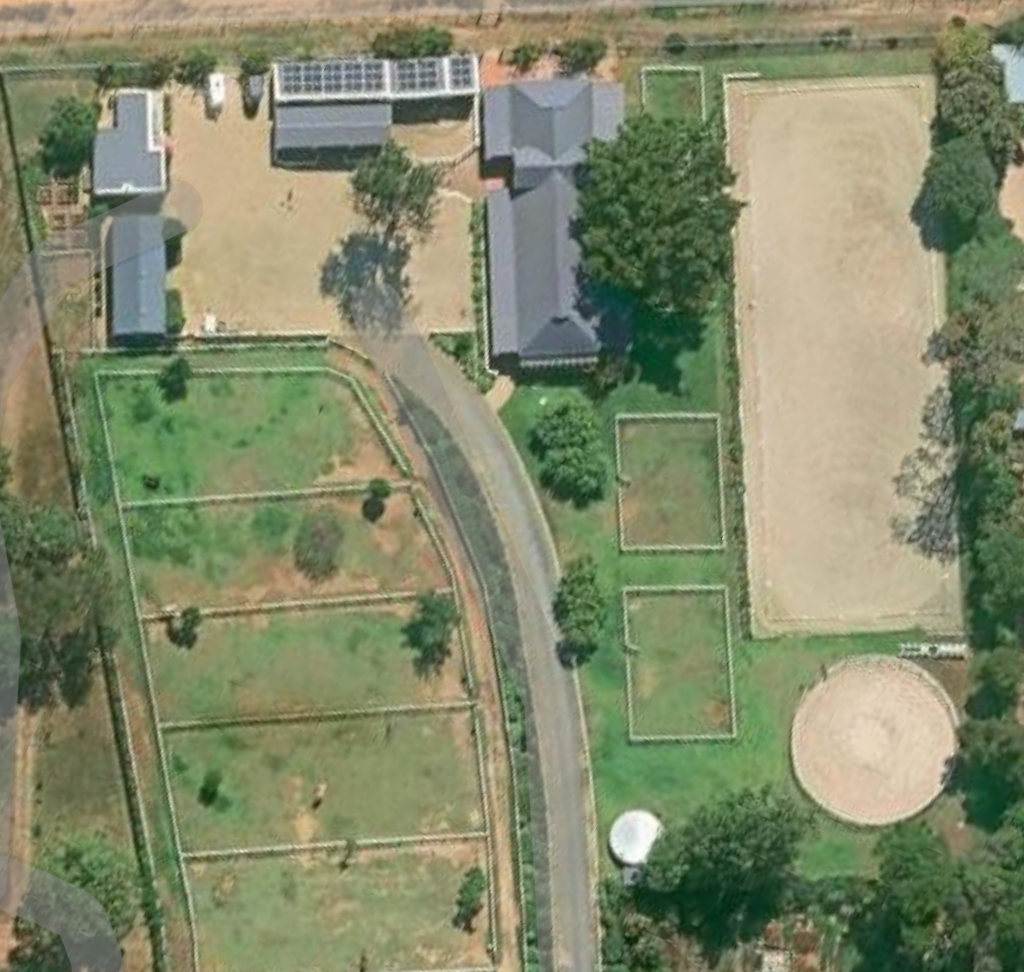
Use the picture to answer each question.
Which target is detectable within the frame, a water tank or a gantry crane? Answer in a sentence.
This aerial view contains a water tank.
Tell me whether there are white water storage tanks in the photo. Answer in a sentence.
Yes, this view includes a white water storage tank.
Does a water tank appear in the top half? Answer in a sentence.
No, I see no water tank in the top half.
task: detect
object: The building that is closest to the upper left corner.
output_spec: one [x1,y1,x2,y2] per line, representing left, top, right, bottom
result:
[94,89,168,205]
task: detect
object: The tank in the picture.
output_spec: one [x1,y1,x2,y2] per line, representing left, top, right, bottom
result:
[609,811,663,867]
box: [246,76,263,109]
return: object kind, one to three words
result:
car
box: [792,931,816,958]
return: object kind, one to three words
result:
shed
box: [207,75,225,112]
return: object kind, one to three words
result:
vehicle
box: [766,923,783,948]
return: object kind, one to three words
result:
shed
